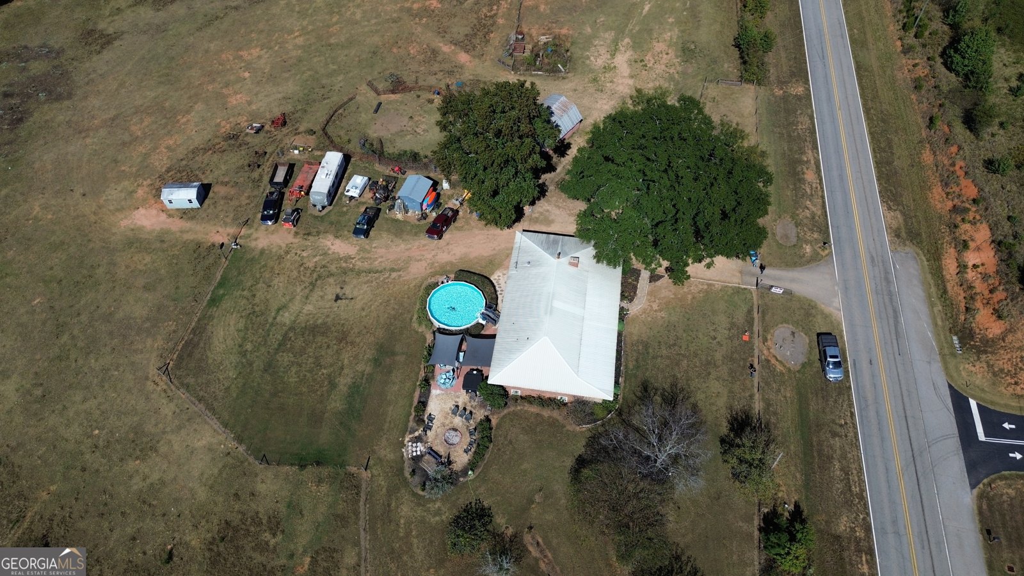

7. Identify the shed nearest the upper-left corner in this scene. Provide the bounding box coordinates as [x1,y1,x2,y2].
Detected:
[160,181,204,209]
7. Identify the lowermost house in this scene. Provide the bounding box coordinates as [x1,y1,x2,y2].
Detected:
[489,214,624,406]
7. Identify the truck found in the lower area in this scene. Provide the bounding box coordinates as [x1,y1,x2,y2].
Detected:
[817,336,848,381]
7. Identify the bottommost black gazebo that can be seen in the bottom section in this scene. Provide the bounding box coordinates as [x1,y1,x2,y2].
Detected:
[461,368,483,394]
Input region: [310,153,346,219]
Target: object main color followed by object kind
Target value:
white vehicle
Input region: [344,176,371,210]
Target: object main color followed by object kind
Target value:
white vehicle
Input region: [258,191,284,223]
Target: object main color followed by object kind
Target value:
black truck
